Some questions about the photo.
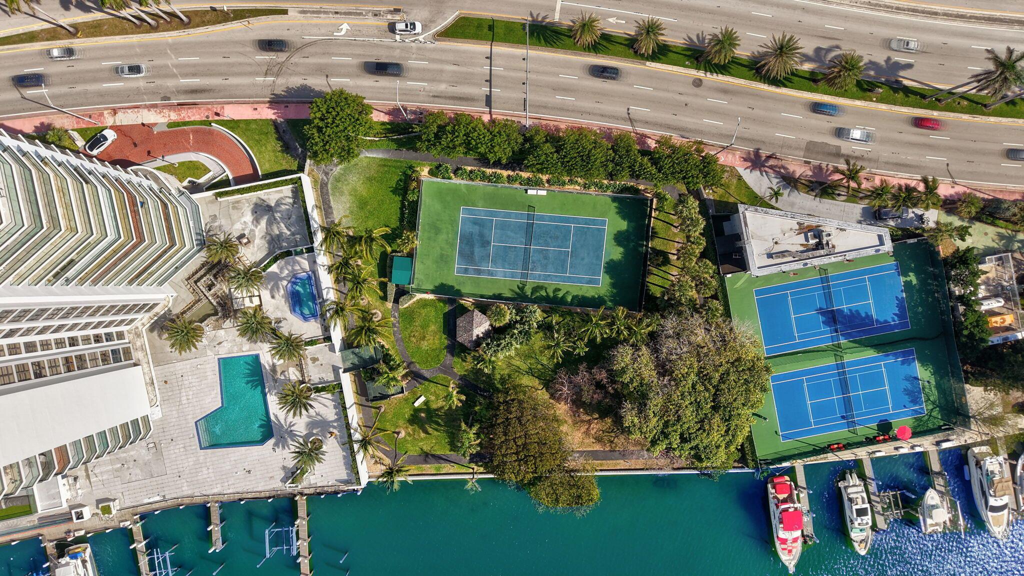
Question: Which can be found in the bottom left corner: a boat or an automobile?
boat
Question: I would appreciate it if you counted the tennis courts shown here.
3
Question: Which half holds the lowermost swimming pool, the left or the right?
left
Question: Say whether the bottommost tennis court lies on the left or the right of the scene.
right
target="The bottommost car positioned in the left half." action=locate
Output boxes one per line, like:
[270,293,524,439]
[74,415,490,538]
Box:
[88,128,117,156]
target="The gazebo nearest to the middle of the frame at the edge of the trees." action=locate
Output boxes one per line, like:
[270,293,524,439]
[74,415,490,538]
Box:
[457,309,490,347]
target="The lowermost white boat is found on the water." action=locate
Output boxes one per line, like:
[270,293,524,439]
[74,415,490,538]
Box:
[61,540,101,576]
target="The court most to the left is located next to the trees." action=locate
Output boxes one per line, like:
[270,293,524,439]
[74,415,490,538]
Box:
[411,179,653,311]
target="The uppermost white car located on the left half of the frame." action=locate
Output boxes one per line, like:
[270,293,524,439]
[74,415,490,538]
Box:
[394,21,423,36]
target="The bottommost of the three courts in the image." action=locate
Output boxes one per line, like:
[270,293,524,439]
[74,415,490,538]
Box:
[742,336,970,463]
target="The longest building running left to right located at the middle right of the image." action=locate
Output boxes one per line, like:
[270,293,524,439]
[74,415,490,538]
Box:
[731,204,893,276]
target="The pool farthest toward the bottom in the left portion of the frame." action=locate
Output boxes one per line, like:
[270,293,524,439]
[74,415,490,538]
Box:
[195,354,274,450]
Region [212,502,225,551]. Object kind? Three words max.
pier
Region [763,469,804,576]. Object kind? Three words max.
boat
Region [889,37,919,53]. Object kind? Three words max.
car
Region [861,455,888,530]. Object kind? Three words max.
pier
